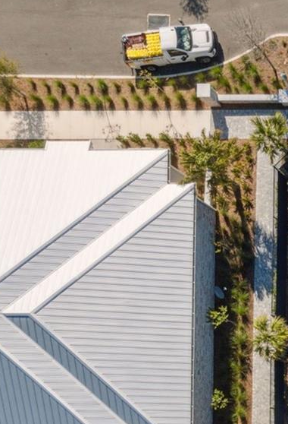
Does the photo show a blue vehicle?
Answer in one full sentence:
No, the picture doesn't show any blue vehicle.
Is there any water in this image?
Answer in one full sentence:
No, no water is visible.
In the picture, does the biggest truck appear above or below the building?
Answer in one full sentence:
In the image, the biggest truck appears above the building.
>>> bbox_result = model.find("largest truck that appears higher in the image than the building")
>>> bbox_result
[119,19,219,70]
